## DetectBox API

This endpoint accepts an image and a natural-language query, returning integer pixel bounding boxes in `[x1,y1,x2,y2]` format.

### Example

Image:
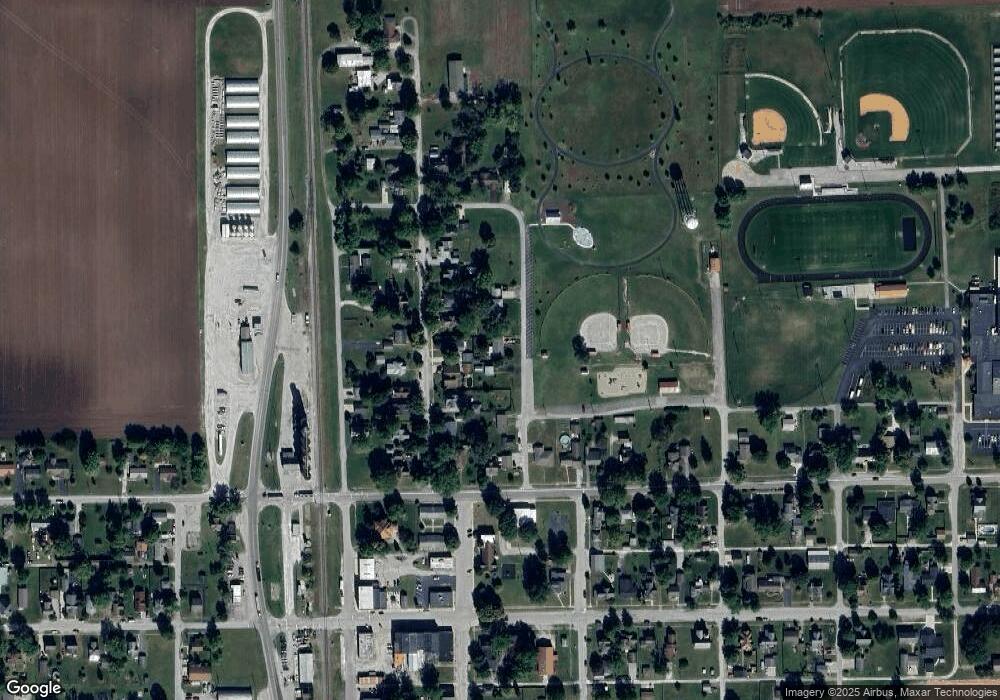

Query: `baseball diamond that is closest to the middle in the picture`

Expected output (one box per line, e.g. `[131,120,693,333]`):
[539,276,619,358]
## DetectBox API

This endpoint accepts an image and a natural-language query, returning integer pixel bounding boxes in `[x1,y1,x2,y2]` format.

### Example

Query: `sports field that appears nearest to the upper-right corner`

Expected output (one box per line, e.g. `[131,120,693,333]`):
[745,203,926,272]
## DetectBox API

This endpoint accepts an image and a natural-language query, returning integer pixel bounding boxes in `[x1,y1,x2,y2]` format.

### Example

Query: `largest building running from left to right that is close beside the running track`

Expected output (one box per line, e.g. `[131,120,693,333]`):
[876,283,907,298]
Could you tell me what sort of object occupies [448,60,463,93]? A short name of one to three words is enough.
barn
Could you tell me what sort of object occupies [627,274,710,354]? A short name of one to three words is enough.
baseball field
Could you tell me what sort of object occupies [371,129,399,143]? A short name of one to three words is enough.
house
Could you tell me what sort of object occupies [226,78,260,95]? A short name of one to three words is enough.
building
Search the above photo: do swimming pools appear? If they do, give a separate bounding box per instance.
[979,524,999,535]
[560,435,570,450]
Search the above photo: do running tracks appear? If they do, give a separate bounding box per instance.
[738,194,932,280]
